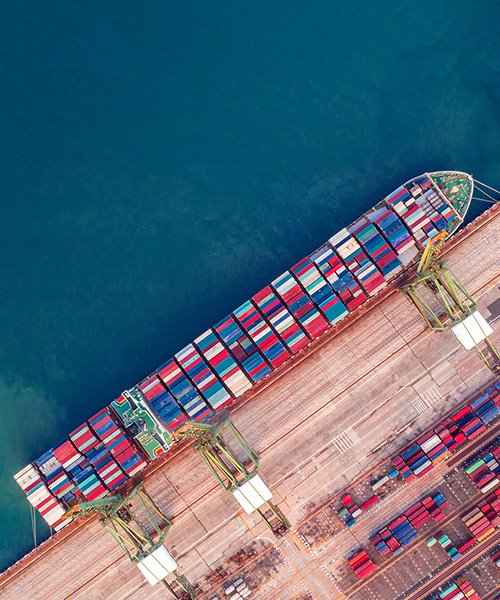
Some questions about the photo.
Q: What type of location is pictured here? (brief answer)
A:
port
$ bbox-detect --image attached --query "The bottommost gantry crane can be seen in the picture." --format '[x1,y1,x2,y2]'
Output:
[62,478,190,600]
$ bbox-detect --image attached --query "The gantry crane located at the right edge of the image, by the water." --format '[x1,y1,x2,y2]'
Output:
[398,230,500,369]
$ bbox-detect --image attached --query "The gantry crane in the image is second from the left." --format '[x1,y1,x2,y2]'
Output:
[170,412,285,533]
